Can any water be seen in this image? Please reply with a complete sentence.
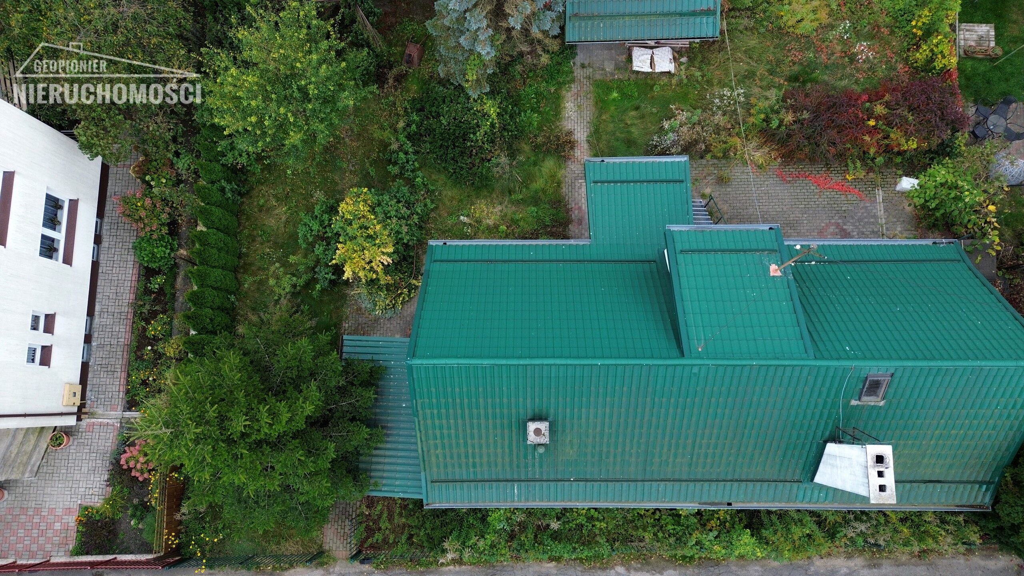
No, water can't be seen anywhere here.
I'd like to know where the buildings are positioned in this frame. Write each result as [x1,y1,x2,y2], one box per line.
[405,155,1024,510]
[0,100,108,428]
[567,0,722,45]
